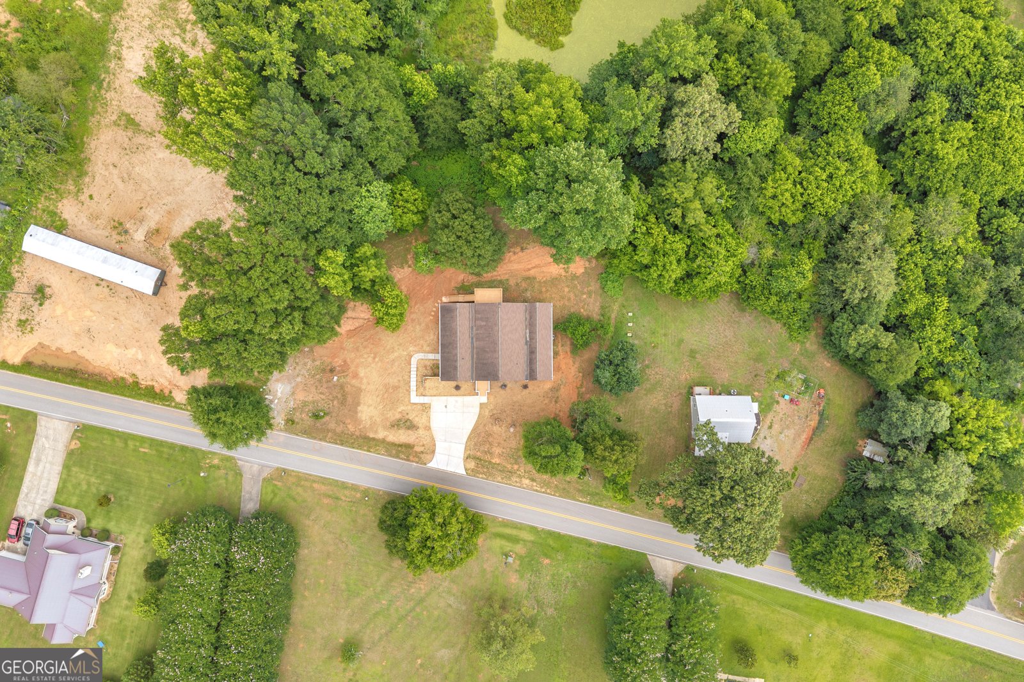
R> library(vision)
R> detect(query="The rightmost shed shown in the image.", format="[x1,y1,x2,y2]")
[857,437,888,463]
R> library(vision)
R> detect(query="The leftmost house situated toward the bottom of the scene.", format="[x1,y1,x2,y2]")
[0,516,115,644]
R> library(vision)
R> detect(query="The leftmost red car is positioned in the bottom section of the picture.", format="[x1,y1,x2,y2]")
[8,516,26,544]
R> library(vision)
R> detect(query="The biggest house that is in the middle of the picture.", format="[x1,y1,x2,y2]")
[439,303,554,396]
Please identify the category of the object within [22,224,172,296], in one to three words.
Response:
house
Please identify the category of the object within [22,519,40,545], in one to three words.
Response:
car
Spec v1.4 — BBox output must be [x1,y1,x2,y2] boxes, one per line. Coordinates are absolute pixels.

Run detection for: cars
[8,516,26,544]
[22,519,40,545]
